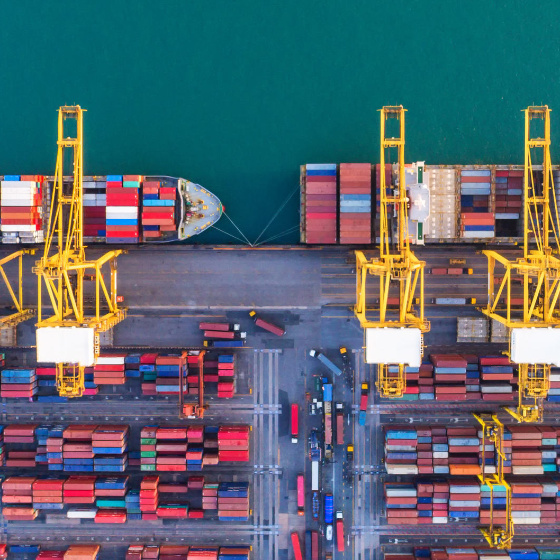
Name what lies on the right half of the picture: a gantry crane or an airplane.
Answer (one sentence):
It is a gantry crane that can be seen on the right half of the picture.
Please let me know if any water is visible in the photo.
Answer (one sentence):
Yes, water shows up in the scene.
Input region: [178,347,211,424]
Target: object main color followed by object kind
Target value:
red container crane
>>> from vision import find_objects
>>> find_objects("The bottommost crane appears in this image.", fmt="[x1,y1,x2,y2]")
[474,471,512,551]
